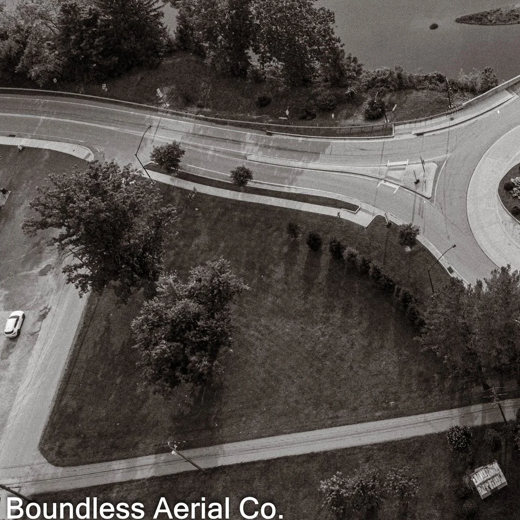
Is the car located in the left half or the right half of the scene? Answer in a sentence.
The car sits on the left side.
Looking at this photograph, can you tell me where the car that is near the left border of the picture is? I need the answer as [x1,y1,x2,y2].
[0,309,26,338]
